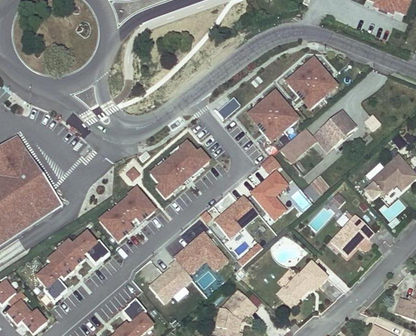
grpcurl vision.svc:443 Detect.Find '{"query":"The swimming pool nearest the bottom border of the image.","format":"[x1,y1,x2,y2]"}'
[193,264,225,292]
